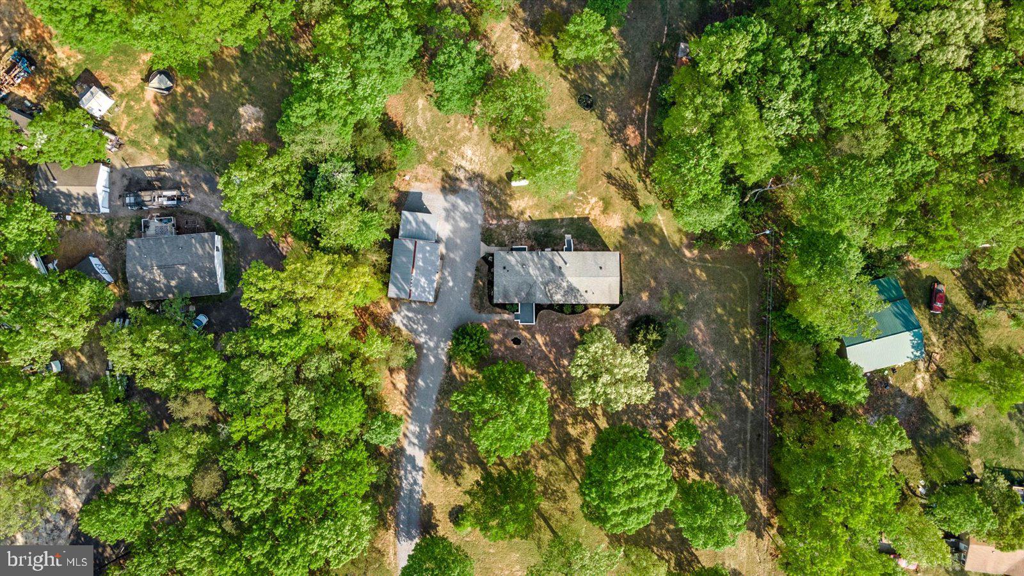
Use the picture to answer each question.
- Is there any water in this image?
No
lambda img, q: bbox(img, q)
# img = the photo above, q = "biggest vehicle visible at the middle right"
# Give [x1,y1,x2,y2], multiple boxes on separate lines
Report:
[928,282,945,314]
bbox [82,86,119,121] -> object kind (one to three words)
vehicle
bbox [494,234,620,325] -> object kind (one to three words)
house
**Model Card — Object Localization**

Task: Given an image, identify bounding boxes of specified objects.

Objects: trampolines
[577,94,593,110]
[149,70,176,95]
